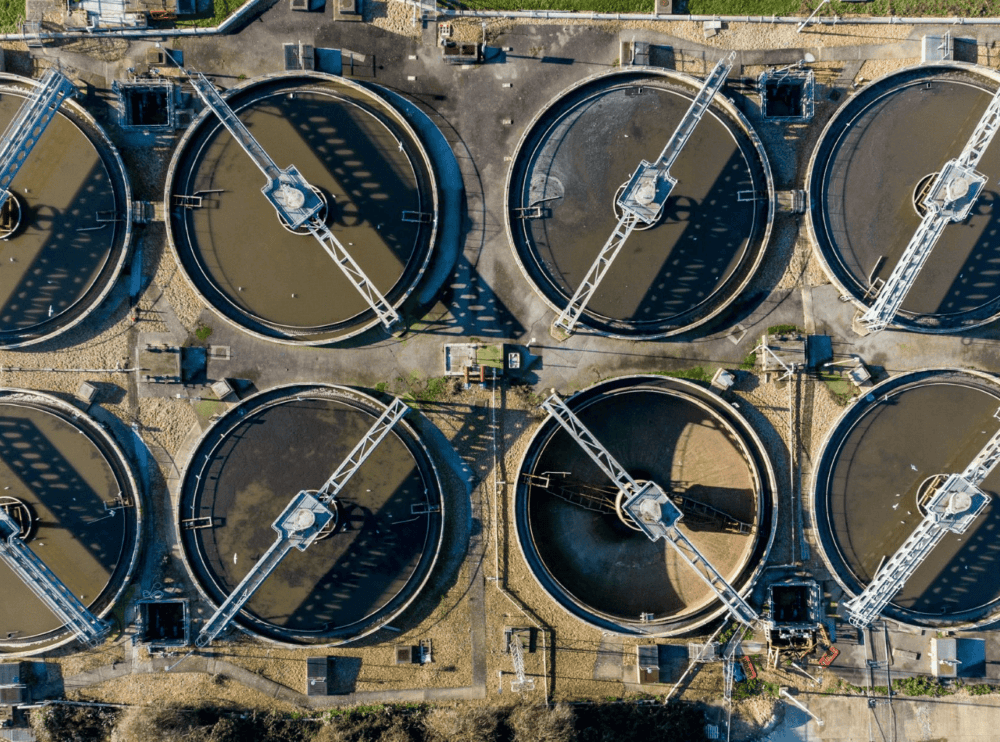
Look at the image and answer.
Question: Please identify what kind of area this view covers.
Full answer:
This image shows an industrial area.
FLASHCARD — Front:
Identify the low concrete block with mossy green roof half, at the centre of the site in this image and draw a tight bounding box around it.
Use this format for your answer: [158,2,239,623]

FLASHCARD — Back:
[444,343,503,377]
